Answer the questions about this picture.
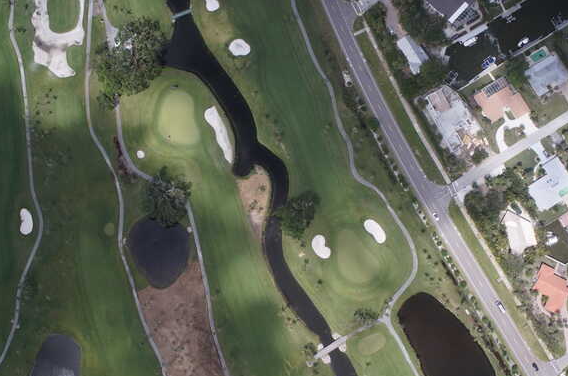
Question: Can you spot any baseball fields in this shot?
No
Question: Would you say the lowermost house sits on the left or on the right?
right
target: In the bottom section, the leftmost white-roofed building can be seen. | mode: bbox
[501,210,536,255]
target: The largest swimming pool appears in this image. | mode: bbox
[527,47,550,63]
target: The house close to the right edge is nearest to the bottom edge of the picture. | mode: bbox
[532,264,568,312]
